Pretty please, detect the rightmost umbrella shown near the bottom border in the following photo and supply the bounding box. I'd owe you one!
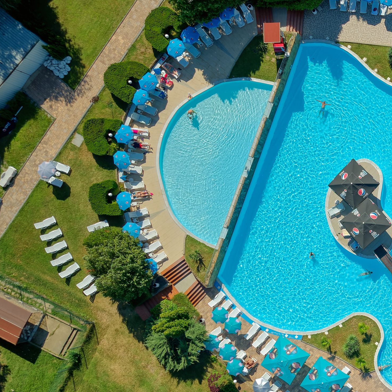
[301,357,350,392]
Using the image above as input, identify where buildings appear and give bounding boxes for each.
[0,11,61,118]
[0,291,52,345]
